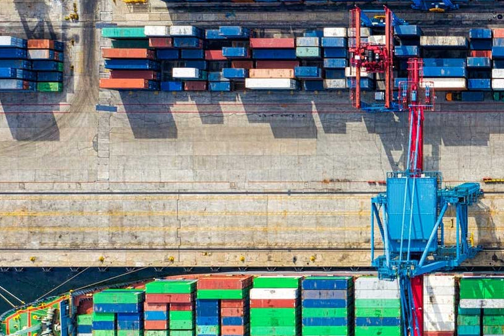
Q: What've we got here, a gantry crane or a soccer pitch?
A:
gantry crane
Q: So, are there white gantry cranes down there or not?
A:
No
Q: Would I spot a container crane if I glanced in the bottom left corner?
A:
No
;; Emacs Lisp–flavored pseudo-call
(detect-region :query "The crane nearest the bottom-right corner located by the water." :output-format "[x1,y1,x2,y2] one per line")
[367,58,492,336]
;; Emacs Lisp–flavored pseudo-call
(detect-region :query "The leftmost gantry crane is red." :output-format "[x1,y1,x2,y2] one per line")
[349,6,419,113]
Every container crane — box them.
[367,58,492,336]
[404,0,467,13]
[349,6,419,113]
